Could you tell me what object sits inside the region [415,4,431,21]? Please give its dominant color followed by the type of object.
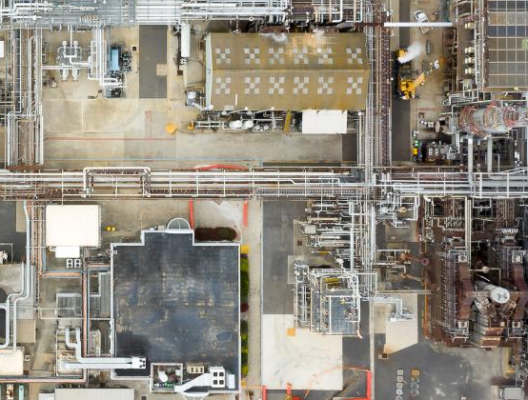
white vehicle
